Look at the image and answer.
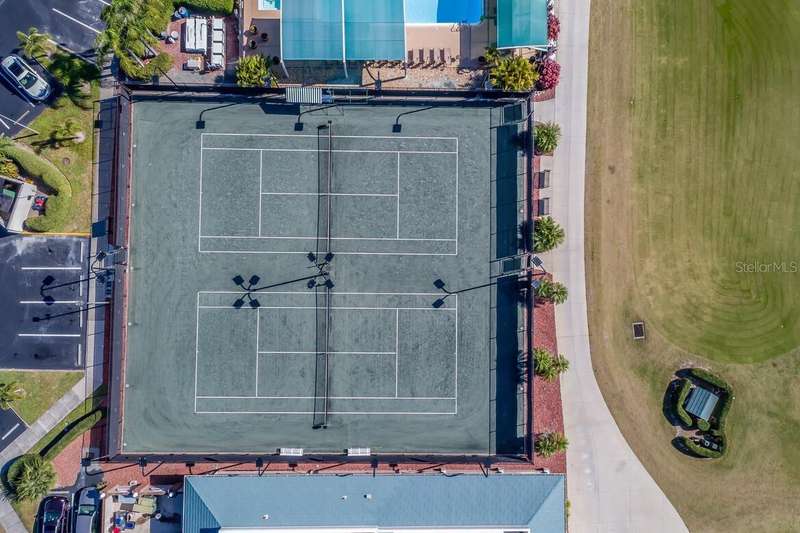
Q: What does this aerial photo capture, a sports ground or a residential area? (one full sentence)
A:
This looks like a sports ground.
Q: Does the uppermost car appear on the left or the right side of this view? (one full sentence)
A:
The uppermost car is on the left side of the image.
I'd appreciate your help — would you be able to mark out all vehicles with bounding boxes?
[0,55,51,105]
[72,486,102,533]
[41,493,71,533]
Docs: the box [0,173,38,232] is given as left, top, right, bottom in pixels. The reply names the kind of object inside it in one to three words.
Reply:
building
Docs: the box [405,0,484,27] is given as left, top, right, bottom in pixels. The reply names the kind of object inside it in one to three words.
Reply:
swimming pool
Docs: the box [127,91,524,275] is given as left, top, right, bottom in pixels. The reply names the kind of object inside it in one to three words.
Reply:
tennis court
